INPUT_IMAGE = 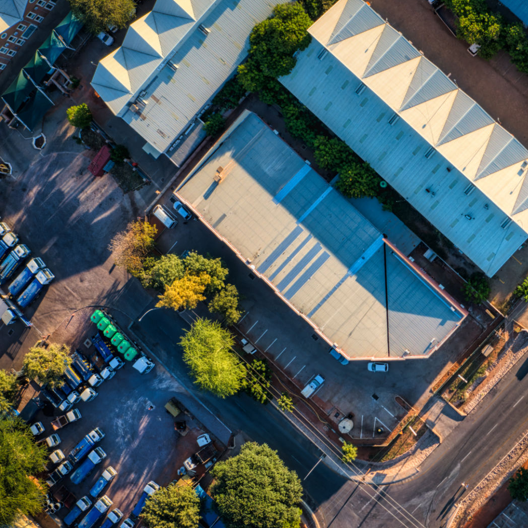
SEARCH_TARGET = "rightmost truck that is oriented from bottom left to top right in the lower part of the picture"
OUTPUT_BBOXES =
[299,374,325,398]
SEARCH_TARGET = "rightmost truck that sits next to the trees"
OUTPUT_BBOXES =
[464,38,485,61]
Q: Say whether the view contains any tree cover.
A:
Yes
